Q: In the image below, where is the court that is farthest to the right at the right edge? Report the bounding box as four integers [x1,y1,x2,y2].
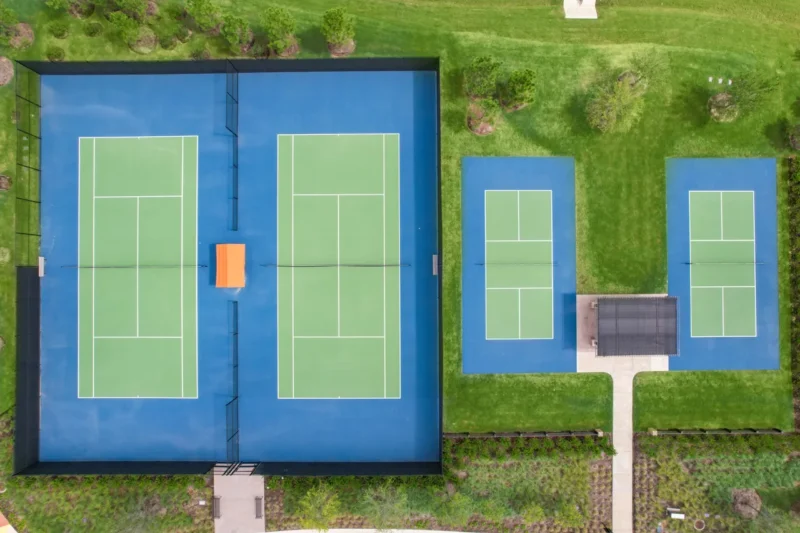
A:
[666,158,780,371]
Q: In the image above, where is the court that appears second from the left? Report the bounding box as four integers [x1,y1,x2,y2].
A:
[238,70,439,462]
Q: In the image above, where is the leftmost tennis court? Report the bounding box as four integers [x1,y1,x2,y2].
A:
[39,72,238,462]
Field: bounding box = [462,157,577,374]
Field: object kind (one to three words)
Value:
sports court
